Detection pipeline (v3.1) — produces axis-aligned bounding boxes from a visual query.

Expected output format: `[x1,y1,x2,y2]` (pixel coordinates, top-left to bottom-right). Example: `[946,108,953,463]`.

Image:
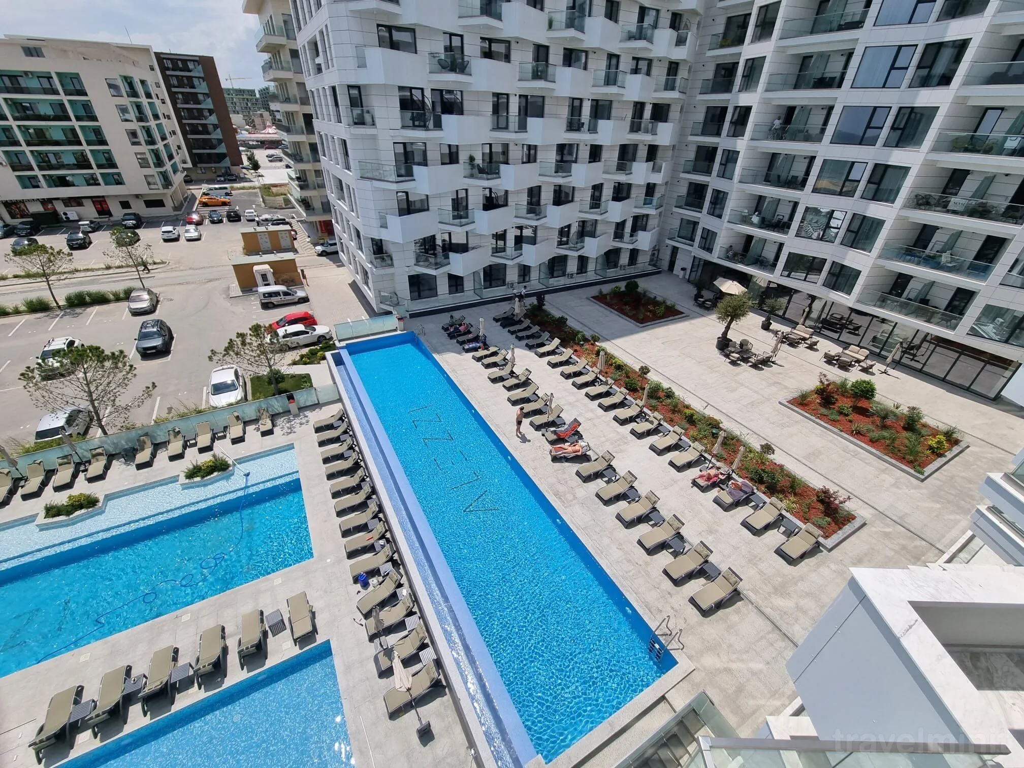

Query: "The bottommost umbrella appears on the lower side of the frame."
[411,694,433,742]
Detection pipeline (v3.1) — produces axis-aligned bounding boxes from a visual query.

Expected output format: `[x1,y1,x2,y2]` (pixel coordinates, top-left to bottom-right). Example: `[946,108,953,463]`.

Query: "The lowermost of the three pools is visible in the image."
[105,654,355,768]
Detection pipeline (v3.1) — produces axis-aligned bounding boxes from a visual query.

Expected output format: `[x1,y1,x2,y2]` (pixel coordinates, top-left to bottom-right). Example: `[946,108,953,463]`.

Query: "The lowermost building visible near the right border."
[701,441,1024,768]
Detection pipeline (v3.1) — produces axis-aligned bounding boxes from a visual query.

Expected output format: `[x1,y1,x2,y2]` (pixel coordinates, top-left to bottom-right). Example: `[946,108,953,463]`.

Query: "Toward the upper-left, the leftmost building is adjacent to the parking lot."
[0,5,195,224]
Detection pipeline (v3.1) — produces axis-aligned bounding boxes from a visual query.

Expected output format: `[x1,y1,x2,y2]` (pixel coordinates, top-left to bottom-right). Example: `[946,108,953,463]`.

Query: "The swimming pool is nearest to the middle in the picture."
[347,333,675,764]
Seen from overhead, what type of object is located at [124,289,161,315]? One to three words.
car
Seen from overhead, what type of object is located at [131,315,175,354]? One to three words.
car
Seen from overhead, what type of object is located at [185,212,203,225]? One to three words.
vehicle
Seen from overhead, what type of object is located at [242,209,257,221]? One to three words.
vehicle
